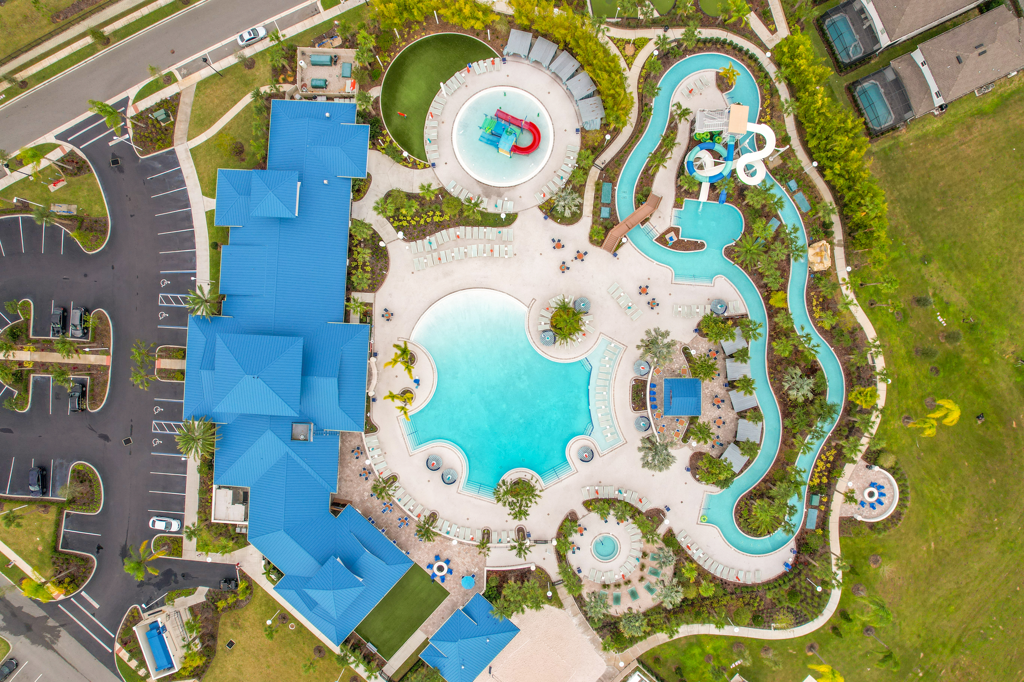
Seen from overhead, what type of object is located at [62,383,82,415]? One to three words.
car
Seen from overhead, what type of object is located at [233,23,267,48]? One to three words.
car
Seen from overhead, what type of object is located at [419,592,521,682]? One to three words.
building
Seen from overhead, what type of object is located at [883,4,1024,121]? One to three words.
house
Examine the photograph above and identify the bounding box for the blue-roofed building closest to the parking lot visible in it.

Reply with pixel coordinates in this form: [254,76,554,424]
[182,98,415,648]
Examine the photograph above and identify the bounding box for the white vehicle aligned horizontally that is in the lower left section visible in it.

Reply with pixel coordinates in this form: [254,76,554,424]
[145,517,180,535]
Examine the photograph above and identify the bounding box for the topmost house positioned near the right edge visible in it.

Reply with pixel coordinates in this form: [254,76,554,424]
[850,0,987,57]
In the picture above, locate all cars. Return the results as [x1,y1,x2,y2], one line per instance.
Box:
[145,517,180,535]
[62,383,82,415]
[44,306,63,338]
[64,306,84,339]
[0,657,17,682]
[22,468,42,499]
[233,23,267,48]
